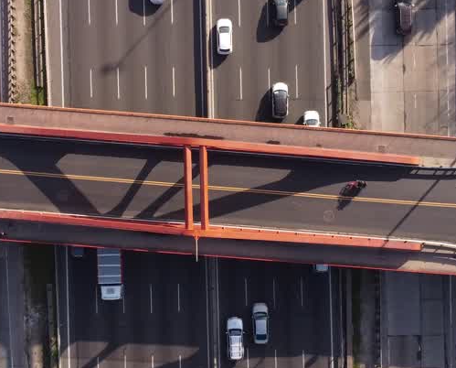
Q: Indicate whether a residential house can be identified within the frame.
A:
No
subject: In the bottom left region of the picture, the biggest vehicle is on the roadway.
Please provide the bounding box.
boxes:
[97,248,121,299]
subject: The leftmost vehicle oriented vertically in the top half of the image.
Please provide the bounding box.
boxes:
[216,19,233,56]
